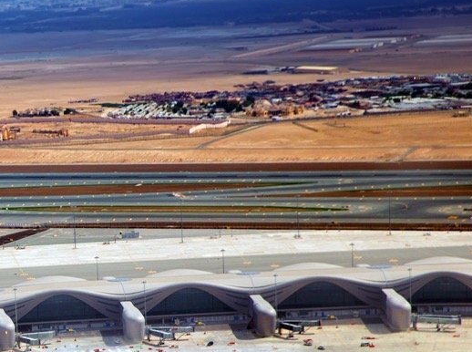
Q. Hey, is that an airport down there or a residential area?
residential area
